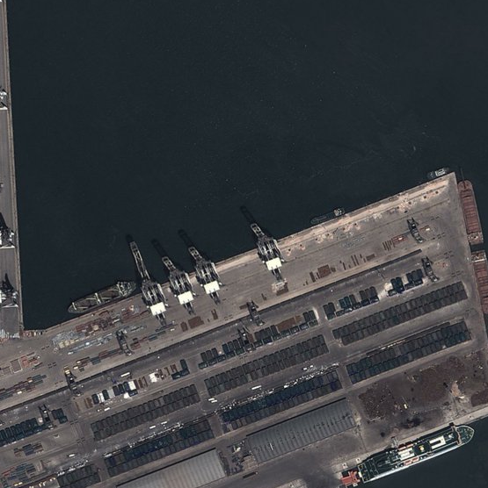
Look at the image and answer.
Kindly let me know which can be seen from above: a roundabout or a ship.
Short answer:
ship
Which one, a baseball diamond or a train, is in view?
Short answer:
train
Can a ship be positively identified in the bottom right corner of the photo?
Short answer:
Yes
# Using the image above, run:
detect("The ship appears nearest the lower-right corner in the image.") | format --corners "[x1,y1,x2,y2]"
[358,427,475,483]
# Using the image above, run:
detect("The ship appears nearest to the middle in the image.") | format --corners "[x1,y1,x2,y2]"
[310,208,346,223]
